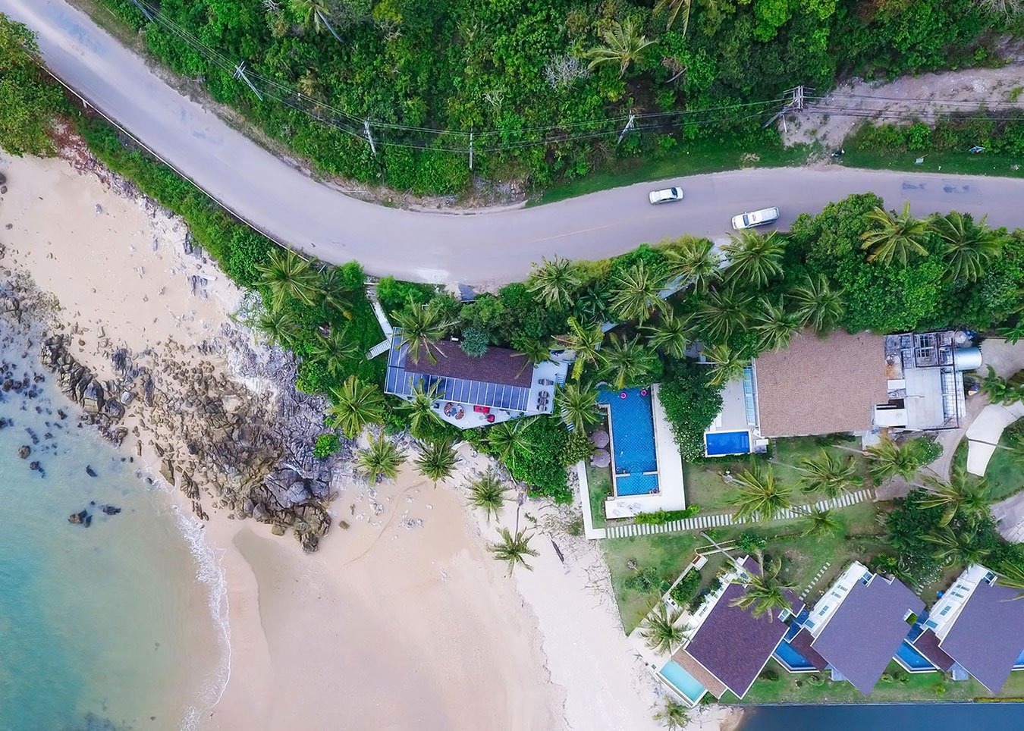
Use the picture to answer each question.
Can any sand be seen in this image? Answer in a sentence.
Yes, there is sand in the image.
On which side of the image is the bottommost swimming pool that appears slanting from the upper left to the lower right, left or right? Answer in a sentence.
The bottommost swimming pool that appears slanting from the upper left to the lower right sits on the right side.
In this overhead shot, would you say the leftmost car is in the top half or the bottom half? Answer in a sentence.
Seen from above, the leftmost car lies in the top half of the view.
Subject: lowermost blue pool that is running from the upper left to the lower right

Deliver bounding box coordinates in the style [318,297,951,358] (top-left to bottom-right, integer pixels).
[657,656,708,707]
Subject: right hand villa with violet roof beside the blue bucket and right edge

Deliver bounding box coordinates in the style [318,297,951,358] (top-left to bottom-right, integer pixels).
[906,562,1024,698]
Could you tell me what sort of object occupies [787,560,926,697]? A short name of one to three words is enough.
house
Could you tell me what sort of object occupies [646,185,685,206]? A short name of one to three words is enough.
car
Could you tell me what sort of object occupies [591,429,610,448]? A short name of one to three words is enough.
umbrella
